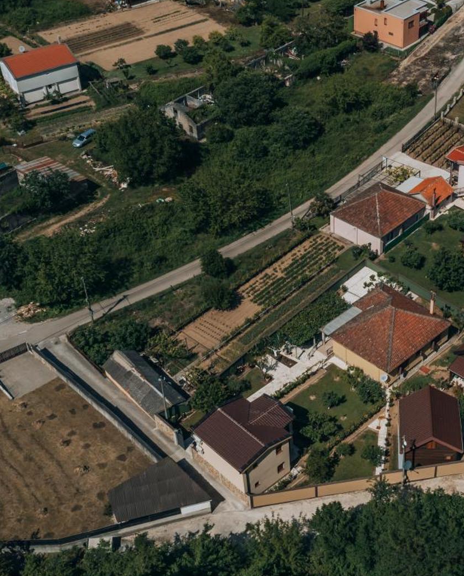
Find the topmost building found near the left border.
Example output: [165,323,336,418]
[0,39,88,109]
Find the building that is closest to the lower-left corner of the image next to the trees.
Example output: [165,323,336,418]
[110,457,213,539]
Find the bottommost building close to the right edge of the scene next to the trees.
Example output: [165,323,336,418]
[398,385,464,469]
